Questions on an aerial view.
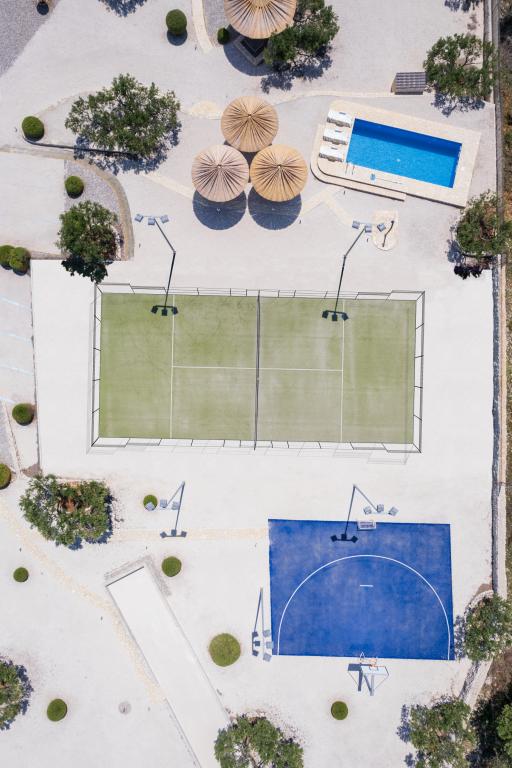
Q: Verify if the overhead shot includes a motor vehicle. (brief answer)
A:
No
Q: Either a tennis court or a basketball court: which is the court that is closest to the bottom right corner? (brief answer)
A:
basketball court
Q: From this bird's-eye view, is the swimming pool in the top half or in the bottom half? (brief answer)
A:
top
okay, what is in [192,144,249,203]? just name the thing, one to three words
umbrella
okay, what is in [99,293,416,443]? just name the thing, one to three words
tennis court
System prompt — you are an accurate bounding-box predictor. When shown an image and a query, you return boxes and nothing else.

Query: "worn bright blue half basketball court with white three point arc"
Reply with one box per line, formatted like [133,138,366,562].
[269,519,453,660]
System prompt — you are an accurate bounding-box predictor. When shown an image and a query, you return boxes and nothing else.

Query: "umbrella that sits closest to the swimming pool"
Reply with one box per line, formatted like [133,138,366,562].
[250,146,308,205]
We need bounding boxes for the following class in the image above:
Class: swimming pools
[310,101,480,208]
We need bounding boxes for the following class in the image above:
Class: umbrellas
[221,96,278,154]
[192,144,249,203]
[223,0,298,43]
[250,146,308,205]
